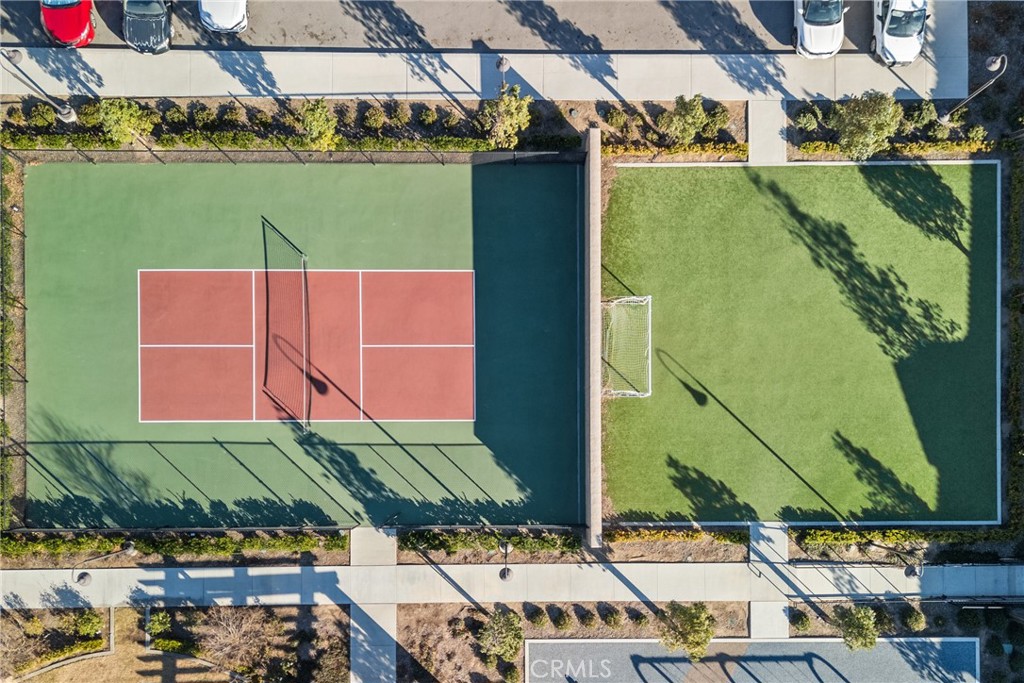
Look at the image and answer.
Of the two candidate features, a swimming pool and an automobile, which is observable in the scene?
automobile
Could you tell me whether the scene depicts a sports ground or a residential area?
sports ground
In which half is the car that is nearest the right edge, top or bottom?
top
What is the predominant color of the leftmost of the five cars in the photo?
red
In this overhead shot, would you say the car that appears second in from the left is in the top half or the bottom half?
top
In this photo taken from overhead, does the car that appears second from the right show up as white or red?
white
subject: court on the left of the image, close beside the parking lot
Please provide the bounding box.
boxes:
[24,164,583,527]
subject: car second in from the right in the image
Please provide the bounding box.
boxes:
[792,0,854,61]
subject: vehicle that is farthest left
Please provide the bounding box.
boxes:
[33,0,98,49]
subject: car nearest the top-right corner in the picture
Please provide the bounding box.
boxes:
[869,0,933,69]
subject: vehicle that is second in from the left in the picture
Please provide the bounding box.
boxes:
[114,0,177,56]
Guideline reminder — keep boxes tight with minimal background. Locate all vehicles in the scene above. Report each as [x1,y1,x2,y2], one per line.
[114,0,177,56]
[199,0,252,31]
[792,0,854,61]
[33,0,98,49]
[869,0,933,69]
